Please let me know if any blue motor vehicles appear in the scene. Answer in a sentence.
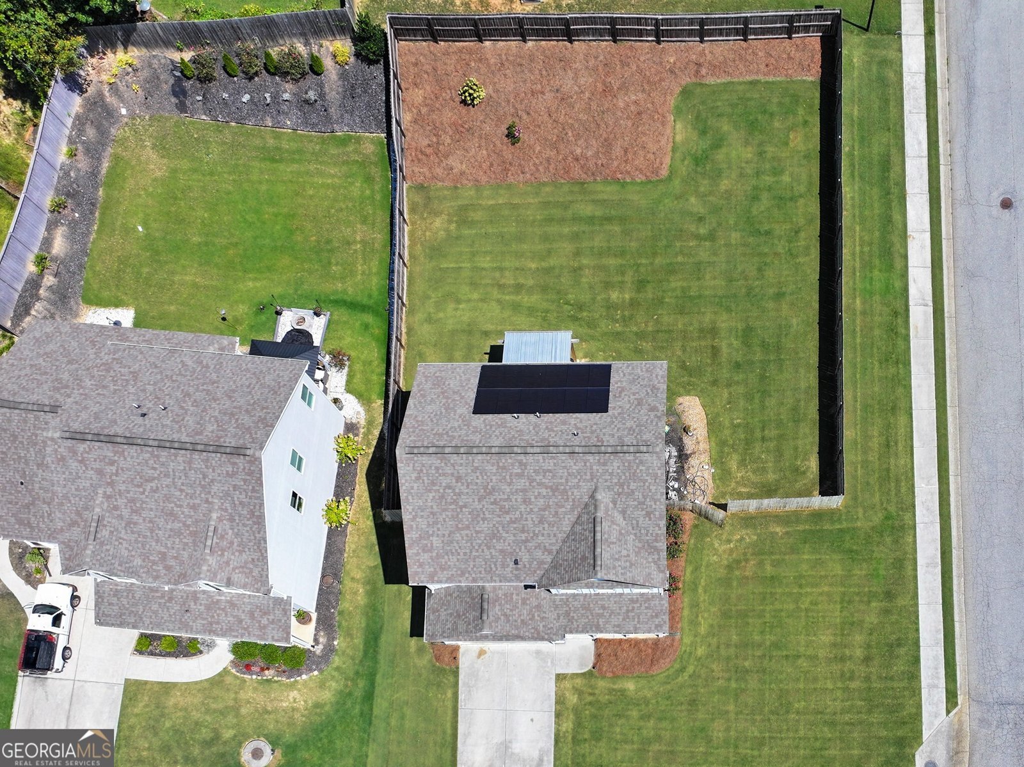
No, there's no blue motor vehicle here.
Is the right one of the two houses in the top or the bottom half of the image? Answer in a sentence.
You can find the right one of the two houses in the bottom half.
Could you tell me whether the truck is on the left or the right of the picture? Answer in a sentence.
You can find the truck on the left side of the picture.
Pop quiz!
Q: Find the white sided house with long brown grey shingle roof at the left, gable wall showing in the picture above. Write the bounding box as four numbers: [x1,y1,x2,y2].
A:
[0,318,345,651]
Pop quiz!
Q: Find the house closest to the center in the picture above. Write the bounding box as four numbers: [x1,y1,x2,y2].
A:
[394,359,687,649]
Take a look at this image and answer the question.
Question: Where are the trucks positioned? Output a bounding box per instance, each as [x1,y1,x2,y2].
[21,579,80,676]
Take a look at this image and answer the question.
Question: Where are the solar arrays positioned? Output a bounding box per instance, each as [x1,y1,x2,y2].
[472,365,613,416]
